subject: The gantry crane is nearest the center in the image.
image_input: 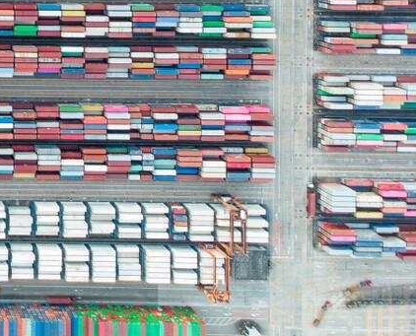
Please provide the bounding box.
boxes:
[209,189,248,255]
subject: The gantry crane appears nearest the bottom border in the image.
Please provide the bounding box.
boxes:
[194,236,232,304]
